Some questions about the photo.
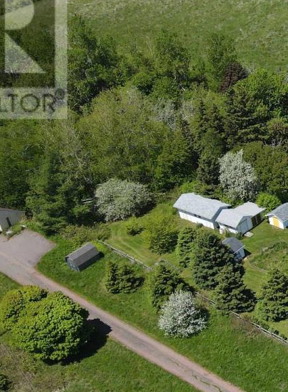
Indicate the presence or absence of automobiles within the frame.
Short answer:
No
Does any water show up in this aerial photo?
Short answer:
No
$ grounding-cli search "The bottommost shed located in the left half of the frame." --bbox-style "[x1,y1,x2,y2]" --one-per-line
[64,242,108,272]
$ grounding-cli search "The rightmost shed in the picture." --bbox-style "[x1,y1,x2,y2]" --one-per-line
[264,204,288,229]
